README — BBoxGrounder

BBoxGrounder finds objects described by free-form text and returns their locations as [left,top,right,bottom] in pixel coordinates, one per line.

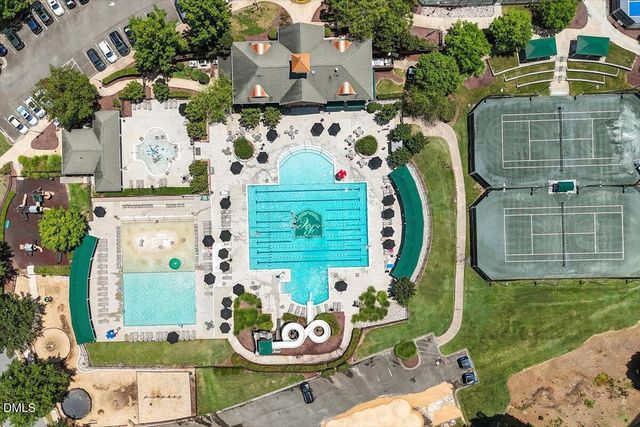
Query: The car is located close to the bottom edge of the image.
[301,379,314,406]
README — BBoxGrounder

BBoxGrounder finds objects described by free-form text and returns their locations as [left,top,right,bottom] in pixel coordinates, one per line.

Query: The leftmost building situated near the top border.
[219,18,373,116]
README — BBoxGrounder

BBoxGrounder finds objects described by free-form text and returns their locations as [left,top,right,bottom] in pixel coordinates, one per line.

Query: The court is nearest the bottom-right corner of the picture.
[471,187,640,280]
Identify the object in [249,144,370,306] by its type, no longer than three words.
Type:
swimming pool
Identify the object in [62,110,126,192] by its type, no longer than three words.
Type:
building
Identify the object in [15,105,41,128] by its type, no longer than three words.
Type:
car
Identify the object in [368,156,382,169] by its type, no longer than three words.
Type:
umbrella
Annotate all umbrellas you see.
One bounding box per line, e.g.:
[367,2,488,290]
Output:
[311,123,324,136]
[168,330,181,342]
[219,260,231,271]
[334,279,347,292]
[266,129,279,142]
[107,328,119,338]
[219,321,232,333]
[233,283,245,296]
[381,193,394,206]
[381,225,394,238]
[178,104,191,116]
[230,163,243,174]
[204,273,216,284]
[220,229,232,242]
[219,198,231,208]
[221,296,233,308]
[220,307,232,319]
[337,170,346,179]
[256,151,268,164]
[328,123,341,135]
[94,205,108,217]
[381,238,396,250]
[218,248,230,259]
[381,208,394,221]
[202,234,215,247]
[368,156,382,169]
